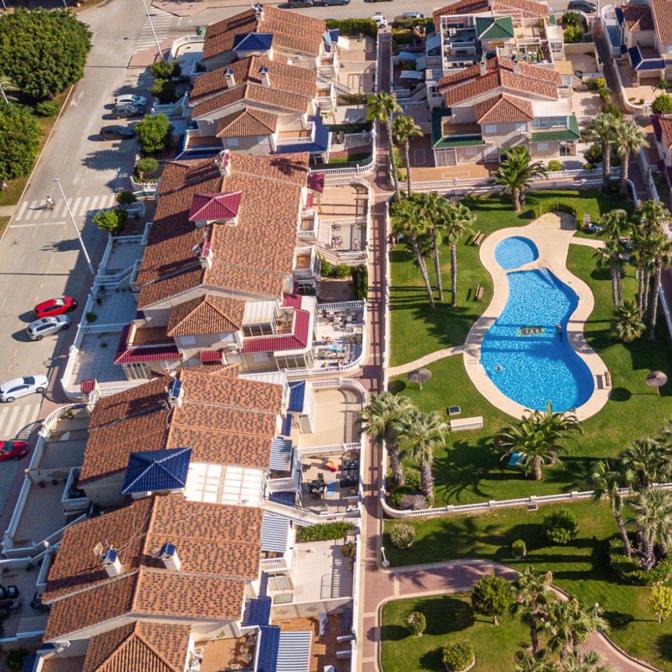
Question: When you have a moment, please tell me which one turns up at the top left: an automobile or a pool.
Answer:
automobile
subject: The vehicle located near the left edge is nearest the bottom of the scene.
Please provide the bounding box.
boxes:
[0,437,32,459]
